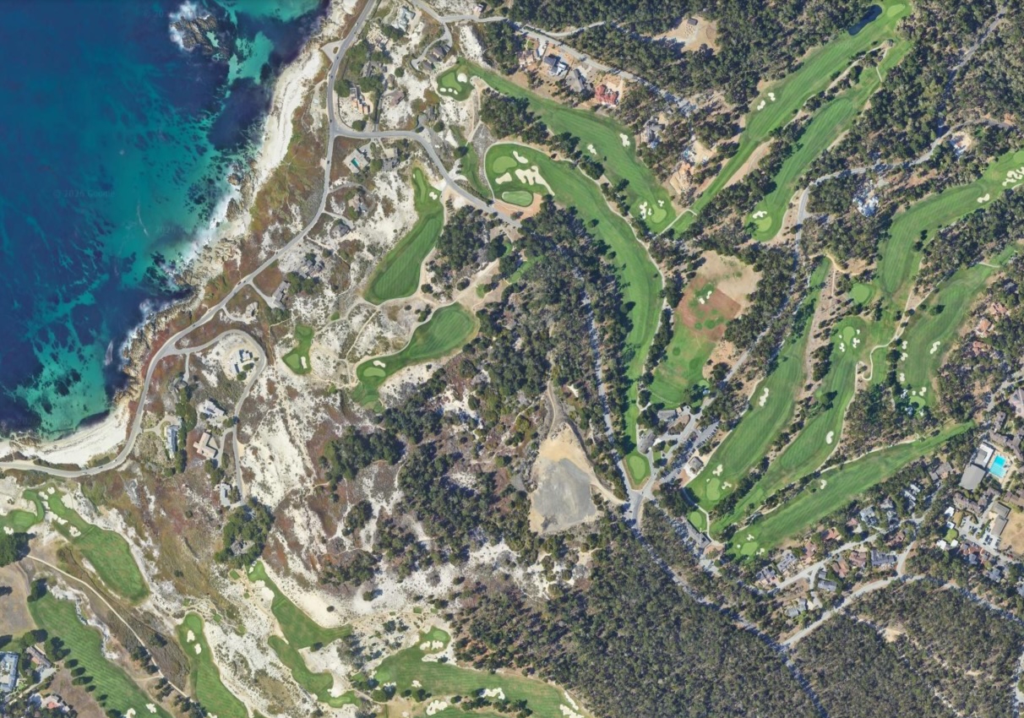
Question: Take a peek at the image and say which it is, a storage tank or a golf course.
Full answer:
I can see a golf course in this picture.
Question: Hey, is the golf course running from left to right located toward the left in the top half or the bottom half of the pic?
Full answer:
Seen from above, the golf course running from left to right located toward the left lies in the bottom half of the view.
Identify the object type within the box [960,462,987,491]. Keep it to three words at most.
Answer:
building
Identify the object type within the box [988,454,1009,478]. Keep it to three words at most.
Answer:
swimming pool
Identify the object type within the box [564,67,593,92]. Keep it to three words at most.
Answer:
house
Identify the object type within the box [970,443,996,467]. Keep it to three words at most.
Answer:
building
